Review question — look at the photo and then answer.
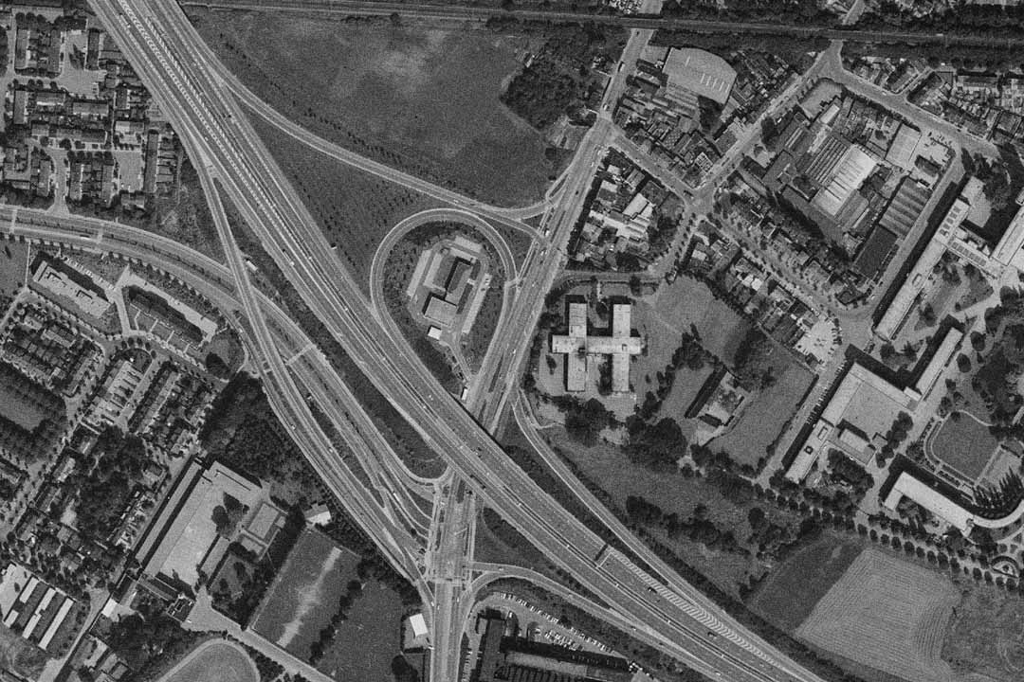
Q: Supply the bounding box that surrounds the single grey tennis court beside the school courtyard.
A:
[245,501,282,543]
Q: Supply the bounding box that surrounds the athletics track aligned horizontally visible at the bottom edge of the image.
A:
[163,641,259,682]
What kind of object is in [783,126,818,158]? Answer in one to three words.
building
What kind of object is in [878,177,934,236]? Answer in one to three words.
building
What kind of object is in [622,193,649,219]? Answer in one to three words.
house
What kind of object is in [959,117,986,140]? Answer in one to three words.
house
